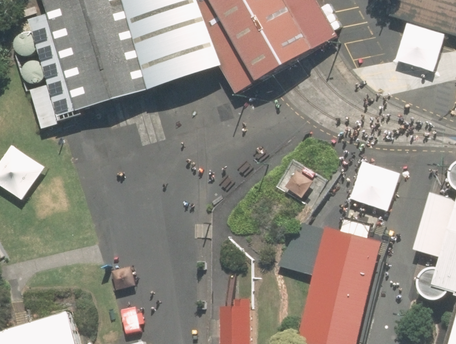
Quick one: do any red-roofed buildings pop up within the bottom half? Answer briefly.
Yes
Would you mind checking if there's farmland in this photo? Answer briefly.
No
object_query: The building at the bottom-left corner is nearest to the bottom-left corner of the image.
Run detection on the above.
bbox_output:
[0,311,74,344]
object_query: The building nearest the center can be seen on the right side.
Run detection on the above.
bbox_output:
[285,170,315,198]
